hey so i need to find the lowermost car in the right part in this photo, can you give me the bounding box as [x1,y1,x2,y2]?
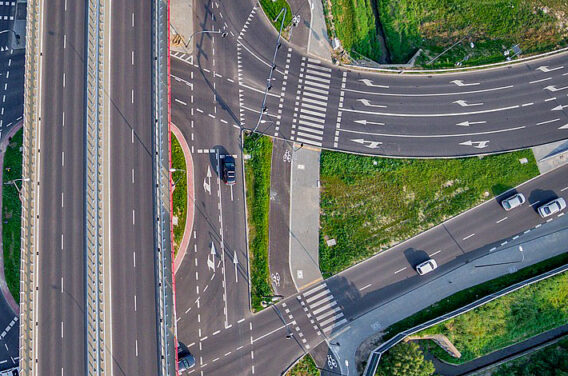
[413,258,438,277]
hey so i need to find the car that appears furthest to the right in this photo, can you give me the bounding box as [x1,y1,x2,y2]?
[535,198,566,219]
